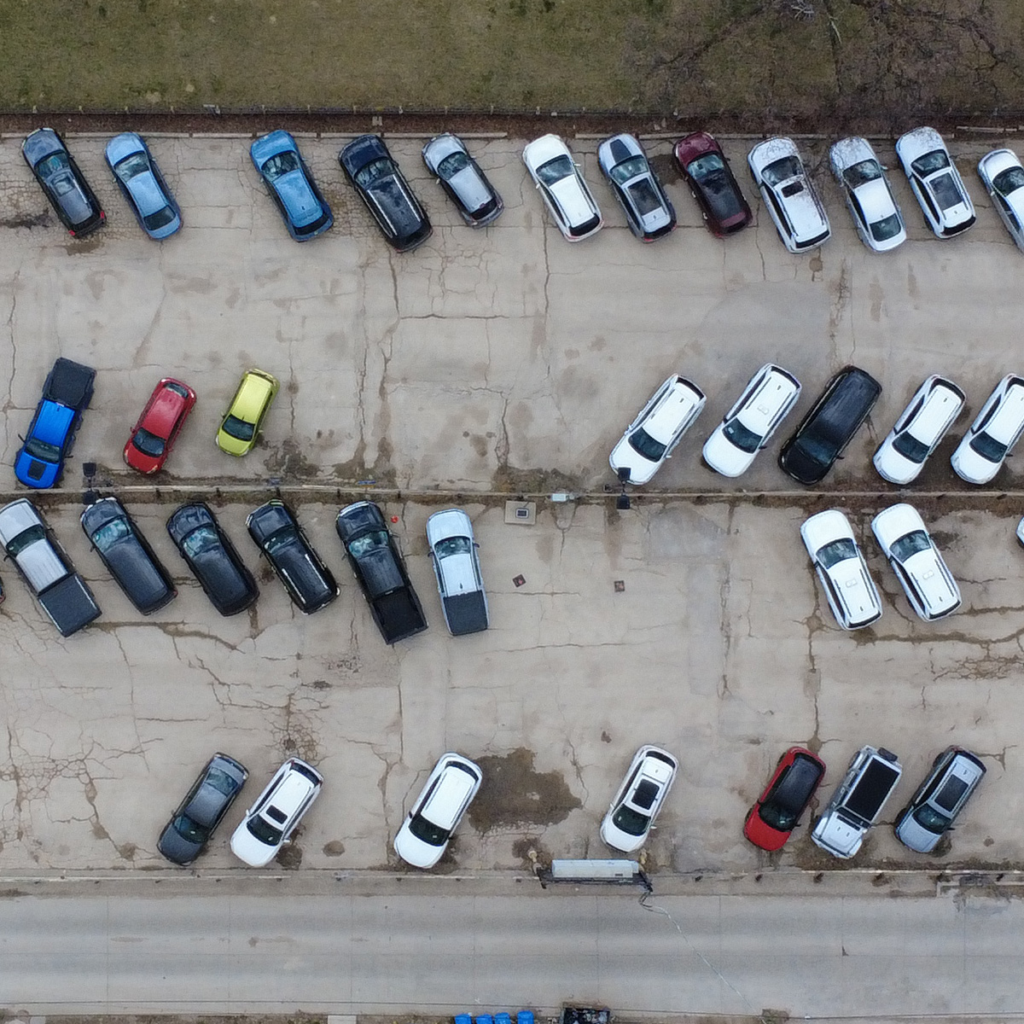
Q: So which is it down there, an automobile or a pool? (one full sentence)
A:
The one in the frame is an automobile.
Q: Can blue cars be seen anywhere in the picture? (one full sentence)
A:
Yes, there's a blue car down there.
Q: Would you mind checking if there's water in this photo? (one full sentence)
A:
No, no water is visible.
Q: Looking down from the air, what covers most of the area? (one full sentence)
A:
The scene is dominated by paved ground.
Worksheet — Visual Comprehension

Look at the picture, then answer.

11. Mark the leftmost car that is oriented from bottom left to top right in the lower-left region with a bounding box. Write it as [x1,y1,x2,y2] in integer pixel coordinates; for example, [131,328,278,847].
[160,752,248,865]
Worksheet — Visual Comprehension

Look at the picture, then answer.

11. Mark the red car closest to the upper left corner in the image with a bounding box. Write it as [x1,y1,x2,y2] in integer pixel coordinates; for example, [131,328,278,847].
[125,378,198,473]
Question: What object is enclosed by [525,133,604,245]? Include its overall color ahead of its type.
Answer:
white car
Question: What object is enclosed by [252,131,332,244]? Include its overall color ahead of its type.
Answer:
blue car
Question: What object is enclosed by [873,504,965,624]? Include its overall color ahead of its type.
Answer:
white car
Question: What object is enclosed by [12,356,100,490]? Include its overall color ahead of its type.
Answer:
blue truck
